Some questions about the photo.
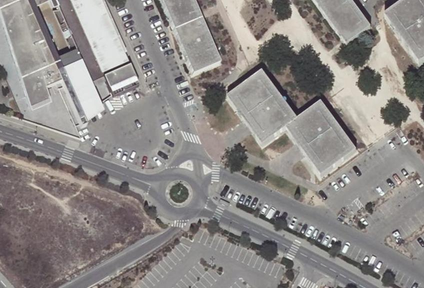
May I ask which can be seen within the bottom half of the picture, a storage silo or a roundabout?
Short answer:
roundabout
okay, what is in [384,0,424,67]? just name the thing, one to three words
building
